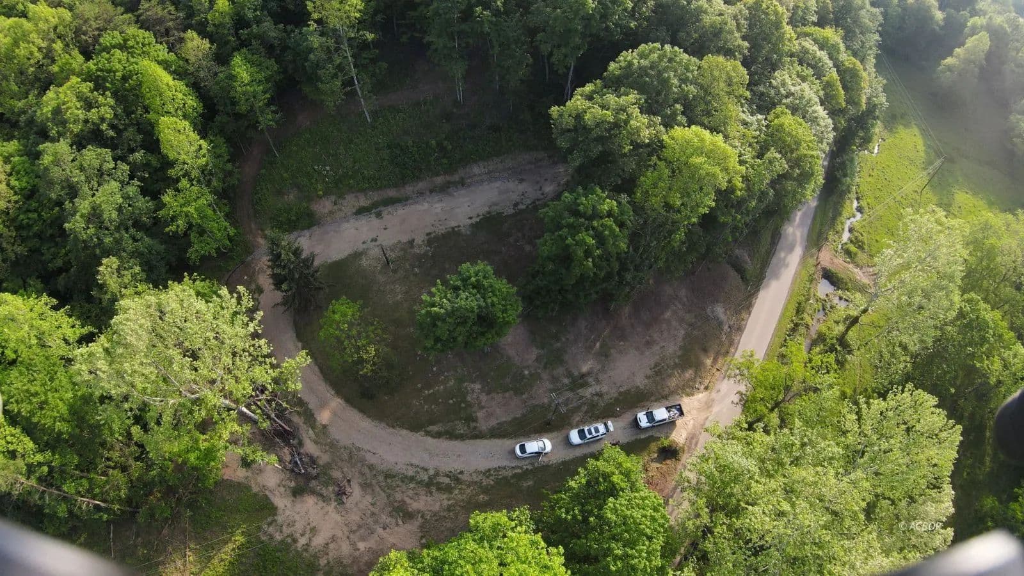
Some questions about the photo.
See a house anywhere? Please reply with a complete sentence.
No, the picture doesn't show any house.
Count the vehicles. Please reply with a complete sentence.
The picture shows 3 vehicles.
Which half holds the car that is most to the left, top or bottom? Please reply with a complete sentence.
It is in the bottom half that the car that is most to the left appears.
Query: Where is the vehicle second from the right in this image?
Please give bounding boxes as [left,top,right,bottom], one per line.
[566,418,614,447]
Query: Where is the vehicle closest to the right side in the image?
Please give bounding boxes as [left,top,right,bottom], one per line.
[633,402,686,430]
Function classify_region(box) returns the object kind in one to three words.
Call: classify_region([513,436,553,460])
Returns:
car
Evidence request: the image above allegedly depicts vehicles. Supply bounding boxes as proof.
[633,402,686,430]
[566,418,614,447]
[513,436,553,460]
